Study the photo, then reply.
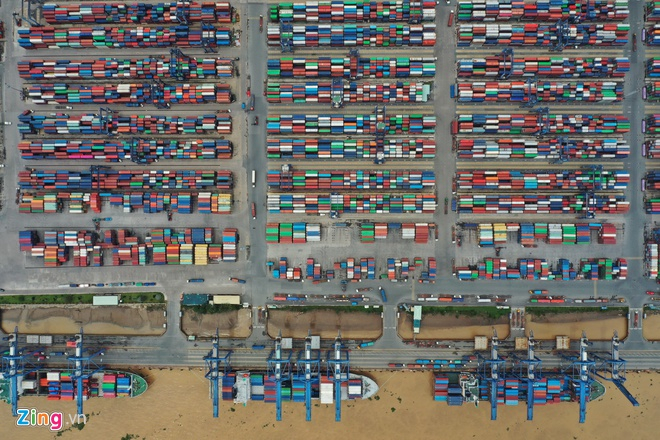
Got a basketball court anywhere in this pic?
No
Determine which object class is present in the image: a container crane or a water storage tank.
container crane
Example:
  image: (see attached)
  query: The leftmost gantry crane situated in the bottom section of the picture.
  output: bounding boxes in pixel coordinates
[4,325,48,417]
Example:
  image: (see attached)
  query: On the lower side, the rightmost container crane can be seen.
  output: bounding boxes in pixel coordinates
[587,330,641,408]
